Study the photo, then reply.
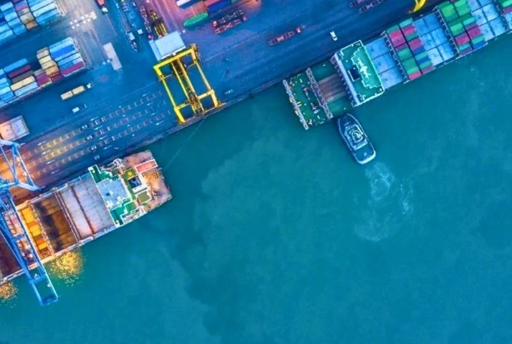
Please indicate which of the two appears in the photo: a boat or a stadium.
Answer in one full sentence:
There is a boat in the scene.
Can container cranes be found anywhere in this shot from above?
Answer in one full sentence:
Yes, a container crane appears in the view.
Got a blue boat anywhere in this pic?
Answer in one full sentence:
Yes, a blue boat is visible in the scene.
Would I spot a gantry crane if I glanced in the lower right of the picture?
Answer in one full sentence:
No, no gantry crane can be made out in the lower right of the picture.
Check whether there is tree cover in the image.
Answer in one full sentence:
No, the scene doesn't show any tree cover.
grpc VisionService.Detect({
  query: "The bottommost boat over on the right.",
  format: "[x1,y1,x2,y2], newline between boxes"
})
[337,114,375,168]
